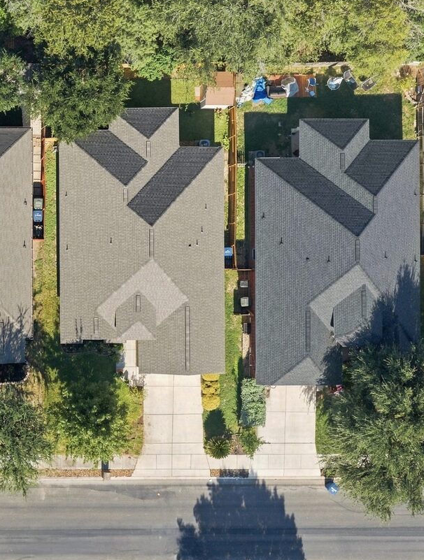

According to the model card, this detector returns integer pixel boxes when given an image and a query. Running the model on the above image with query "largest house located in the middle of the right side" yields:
[248,117,420,387]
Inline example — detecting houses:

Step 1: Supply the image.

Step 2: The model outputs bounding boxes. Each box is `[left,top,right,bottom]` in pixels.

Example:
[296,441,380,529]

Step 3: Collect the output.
[248,117,420,387]
[0,125,33,364]
[59,107,226,376]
